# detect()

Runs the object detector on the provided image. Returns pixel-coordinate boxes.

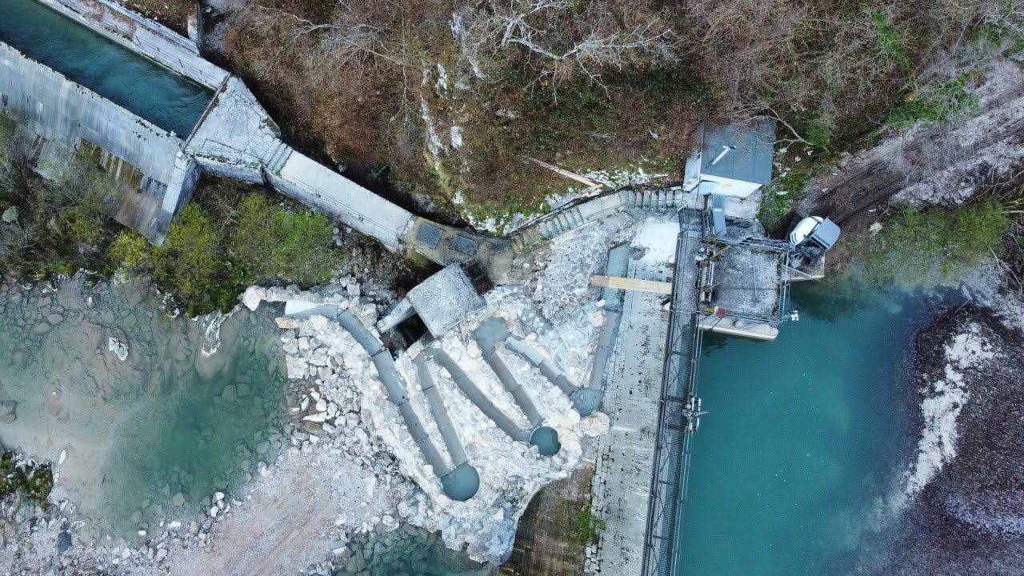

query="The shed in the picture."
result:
[678,117,774,198]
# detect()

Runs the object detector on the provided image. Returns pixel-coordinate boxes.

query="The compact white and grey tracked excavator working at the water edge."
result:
[771,205,840,263]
